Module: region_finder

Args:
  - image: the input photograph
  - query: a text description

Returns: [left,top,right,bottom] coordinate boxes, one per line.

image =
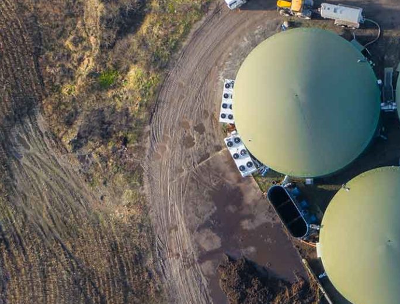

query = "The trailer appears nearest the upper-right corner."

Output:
[312,4,365,30]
